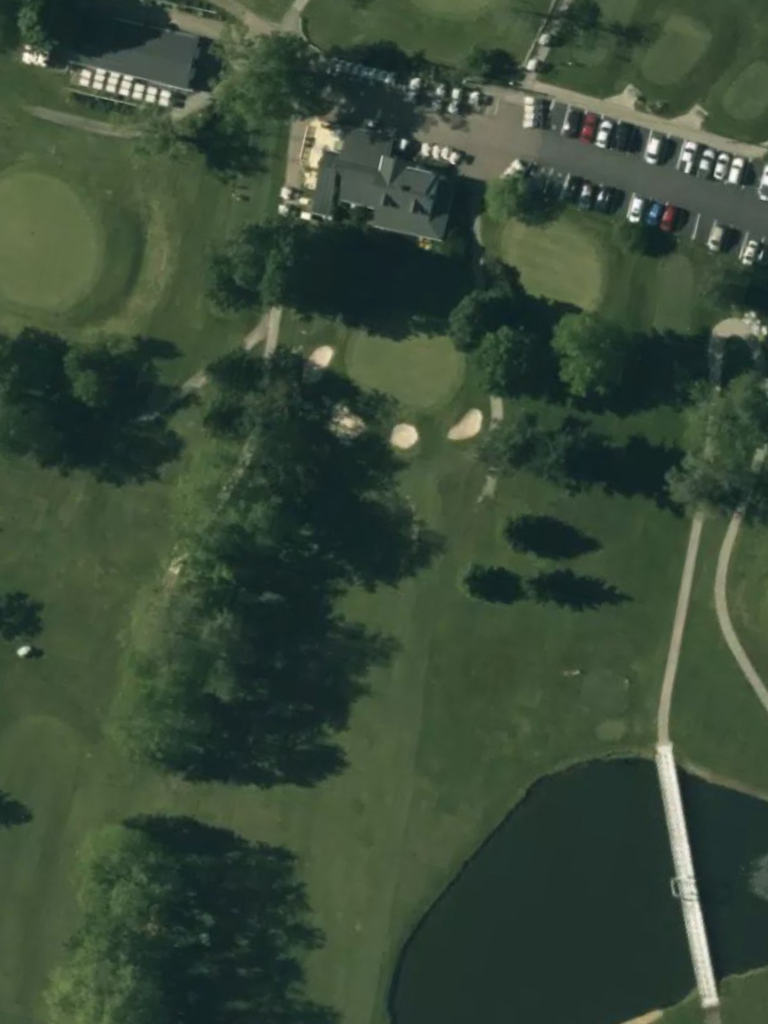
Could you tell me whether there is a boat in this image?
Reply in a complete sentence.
No, I can't see a single boat in this photo.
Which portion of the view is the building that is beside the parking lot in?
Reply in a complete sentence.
The building that is beside the parking lot is located in the top region of the scene.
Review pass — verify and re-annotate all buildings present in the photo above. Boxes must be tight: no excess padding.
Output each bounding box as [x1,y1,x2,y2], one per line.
[70,9,199,92]
[312,128,455,242]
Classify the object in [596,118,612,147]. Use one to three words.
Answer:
car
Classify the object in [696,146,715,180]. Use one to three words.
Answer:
vehicle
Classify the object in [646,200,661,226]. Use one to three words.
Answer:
car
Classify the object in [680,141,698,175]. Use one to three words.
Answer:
vehicle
